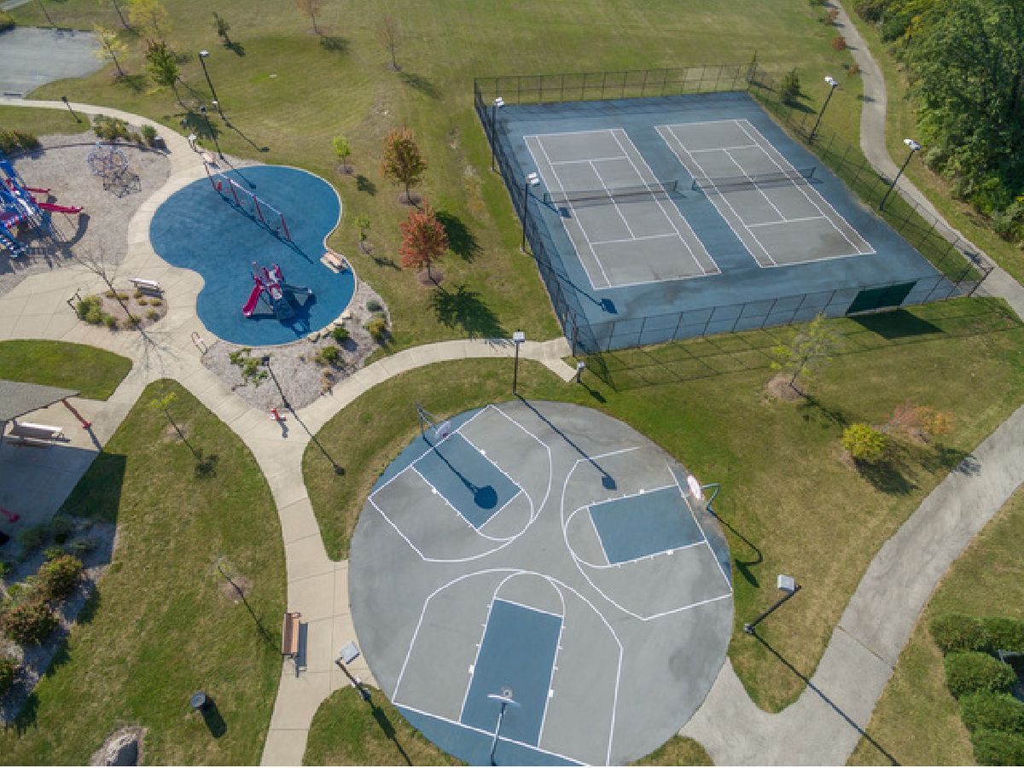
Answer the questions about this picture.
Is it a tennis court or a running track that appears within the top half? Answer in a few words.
tennis court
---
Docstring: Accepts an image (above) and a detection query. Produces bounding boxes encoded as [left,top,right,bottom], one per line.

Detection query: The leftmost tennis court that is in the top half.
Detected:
[477,98,780,355]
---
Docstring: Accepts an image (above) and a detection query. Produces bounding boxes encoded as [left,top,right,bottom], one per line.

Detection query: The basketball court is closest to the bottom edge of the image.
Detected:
[347,399,735,768]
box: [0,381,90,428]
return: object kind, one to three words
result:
building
